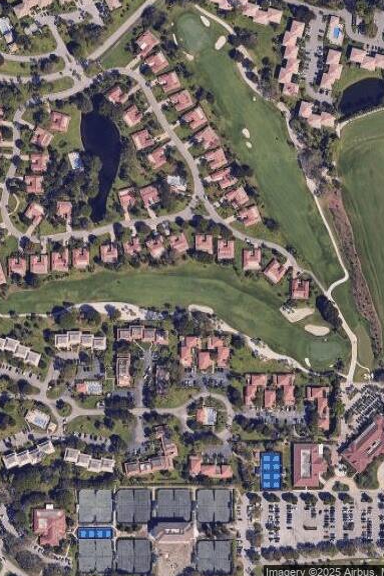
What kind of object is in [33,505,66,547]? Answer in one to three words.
building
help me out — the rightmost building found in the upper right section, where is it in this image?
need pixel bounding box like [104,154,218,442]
[350,47,384,70]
